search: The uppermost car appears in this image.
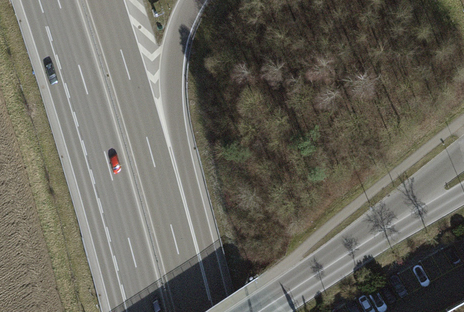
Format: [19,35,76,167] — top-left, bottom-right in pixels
[45,61,59,84]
